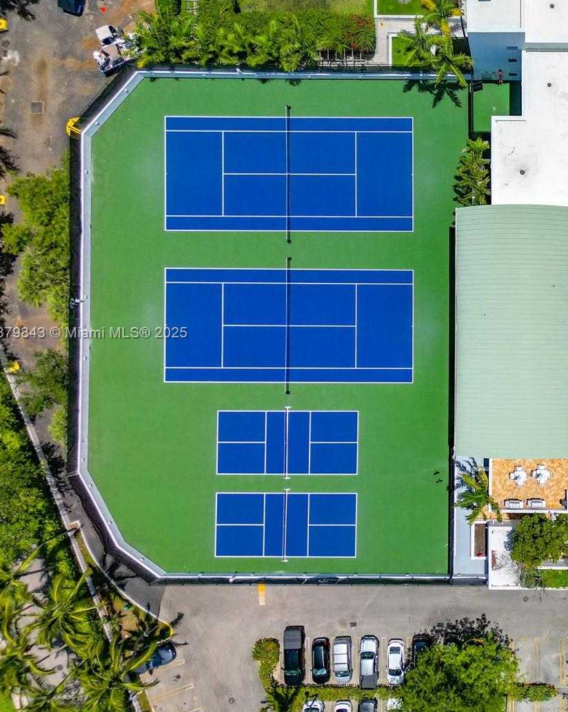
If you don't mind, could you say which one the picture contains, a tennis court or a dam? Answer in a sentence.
The one in the frame is a tennis court.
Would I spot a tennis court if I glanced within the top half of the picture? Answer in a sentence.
Yes, a tennis court is visible within the top half of the picture.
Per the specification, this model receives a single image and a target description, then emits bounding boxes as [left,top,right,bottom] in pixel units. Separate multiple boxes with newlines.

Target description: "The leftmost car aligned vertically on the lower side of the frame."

[280,624,306,686]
